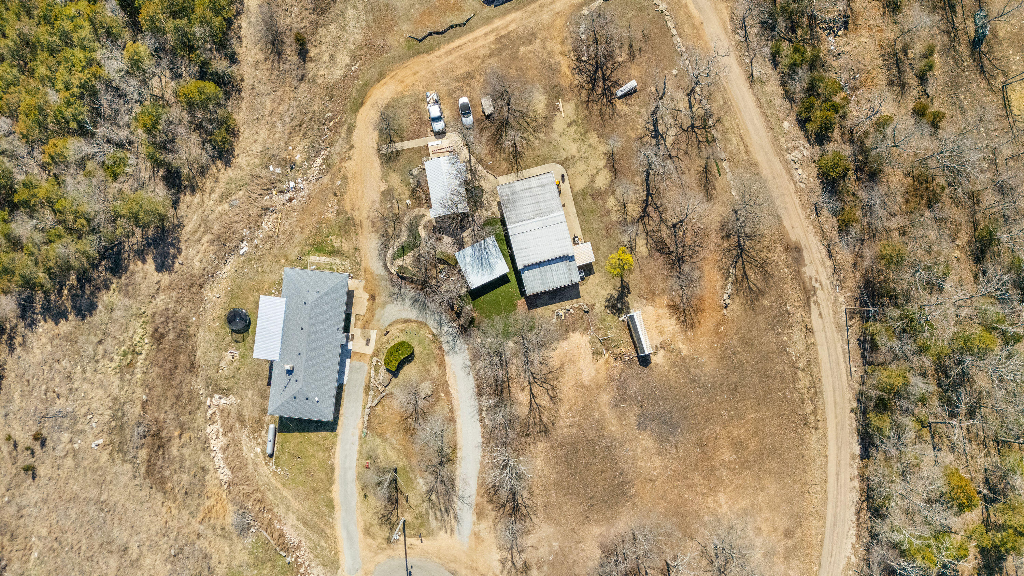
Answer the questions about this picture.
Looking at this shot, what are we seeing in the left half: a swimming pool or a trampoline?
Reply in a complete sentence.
You can see a trampoline in the left half.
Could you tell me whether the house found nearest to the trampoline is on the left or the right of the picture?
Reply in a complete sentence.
The house found nearest to the trampoline sits on the left side.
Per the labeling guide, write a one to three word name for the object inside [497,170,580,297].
building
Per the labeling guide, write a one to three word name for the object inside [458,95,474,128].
car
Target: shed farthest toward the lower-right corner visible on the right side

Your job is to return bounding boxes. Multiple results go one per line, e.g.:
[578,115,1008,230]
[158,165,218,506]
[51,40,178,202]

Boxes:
[627,311,653,356]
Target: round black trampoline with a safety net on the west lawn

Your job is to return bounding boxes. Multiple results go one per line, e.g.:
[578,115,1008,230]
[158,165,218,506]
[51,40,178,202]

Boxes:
[217,305,249,331]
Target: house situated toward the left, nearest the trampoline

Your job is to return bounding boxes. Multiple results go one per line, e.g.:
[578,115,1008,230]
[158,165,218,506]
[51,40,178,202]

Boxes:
[268,267,351,422]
